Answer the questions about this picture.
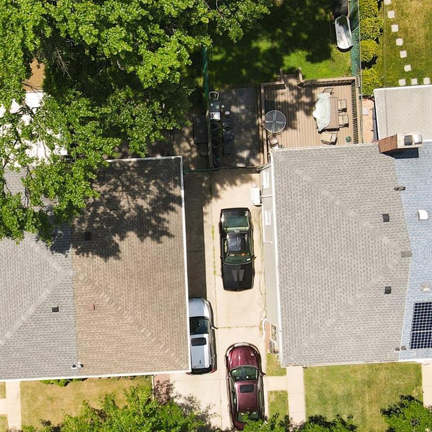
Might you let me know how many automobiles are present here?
3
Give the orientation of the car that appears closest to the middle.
vertically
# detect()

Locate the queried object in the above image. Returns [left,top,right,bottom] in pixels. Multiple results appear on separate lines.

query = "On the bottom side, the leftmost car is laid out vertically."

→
[189,296,222,375]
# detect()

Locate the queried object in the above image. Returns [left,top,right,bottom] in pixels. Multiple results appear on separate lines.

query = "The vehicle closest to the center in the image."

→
[219,207,258,291]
